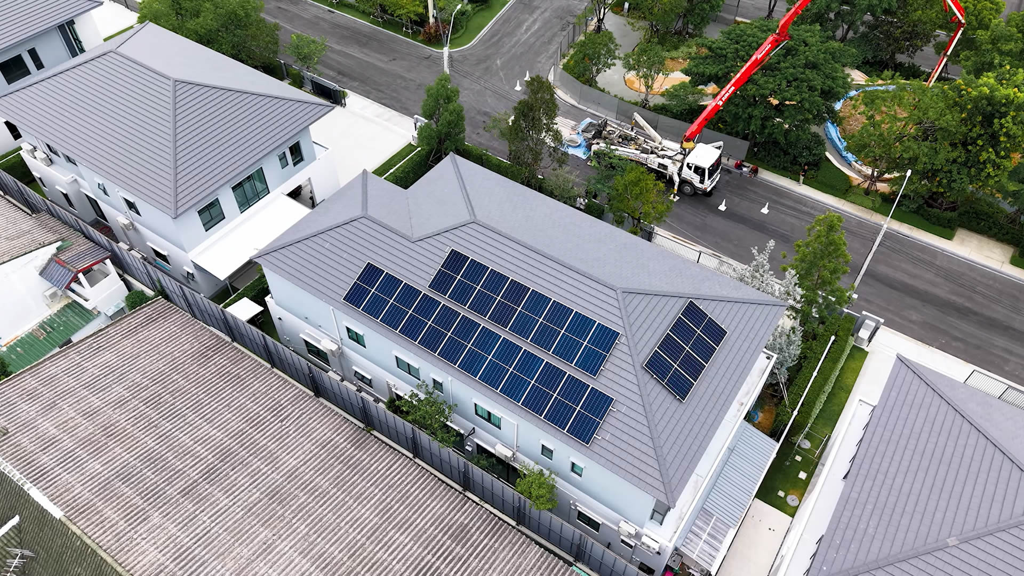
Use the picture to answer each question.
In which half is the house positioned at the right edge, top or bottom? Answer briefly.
bottom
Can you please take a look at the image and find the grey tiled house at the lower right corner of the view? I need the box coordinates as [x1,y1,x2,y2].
[767,352,1024,576]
